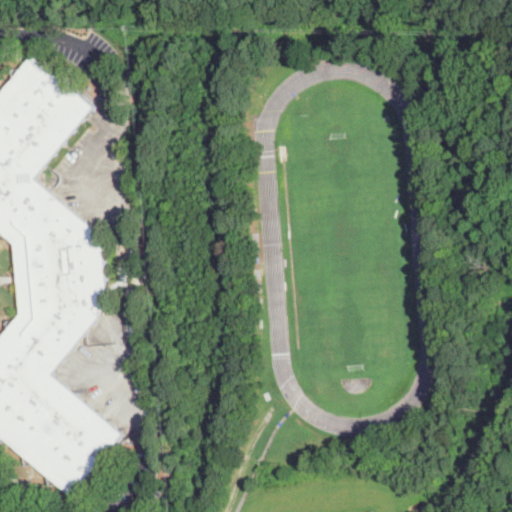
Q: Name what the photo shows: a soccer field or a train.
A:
soccer field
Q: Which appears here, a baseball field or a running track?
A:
running track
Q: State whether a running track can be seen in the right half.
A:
Yes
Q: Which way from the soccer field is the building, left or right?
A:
left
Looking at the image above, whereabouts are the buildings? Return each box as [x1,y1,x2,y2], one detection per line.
[0,58,122,490]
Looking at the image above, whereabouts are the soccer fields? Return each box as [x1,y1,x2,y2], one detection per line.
[275,80,420,418]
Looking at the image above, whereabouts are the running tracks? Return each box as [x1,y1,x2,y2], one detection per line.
[251,58,438,436]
